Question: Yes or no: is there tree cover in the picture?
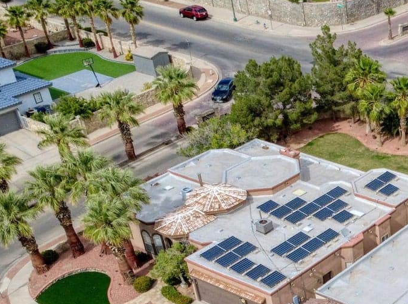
Yes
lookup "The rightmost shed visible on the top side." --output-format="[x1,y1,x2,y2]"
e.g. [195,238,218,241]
[130,42,170,75]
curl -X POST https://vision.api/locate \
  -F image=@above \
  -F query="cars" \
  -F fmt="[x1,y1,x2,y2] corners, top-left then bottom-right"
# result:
[179,5,210,21]
[211,81,243,104]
